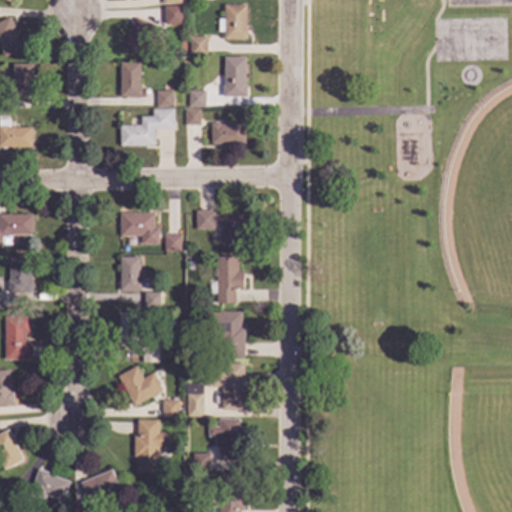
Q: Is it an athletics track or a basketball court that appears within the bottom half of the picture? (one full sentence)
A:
Looking within the bottom half of the picture, you will find an athletics track.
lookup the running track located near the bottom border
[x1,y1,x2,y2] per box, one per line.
[449,366,512,512]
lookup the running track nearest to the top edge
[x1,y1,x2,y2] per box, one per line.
[439,82,512,310]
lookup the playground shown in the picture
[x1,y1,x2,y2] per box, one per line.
[396,112,434,182]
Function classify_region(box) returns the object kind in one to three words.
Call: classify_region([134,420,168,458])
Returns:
house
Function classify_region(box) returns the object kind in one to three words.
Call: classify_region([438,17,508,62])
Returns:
basketball court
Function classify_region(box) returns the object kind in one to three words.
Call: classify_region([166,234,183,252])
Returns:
building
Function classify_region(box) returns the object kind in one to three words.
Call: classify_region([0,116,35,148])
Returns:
house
